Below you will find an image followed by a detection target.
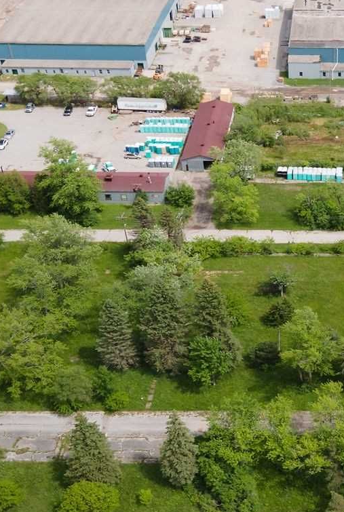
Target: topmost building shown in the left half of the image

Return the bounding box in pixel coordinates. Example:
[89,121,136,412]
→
[0,0,177,77]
